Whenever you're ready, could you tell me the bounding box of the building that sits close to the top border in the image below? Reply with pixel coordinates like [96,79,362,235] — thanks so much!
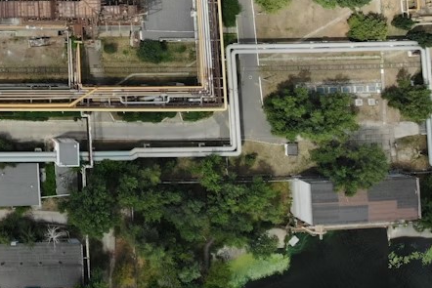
[137,0,195,42]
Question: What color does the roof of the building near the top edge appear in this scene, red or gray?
gray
